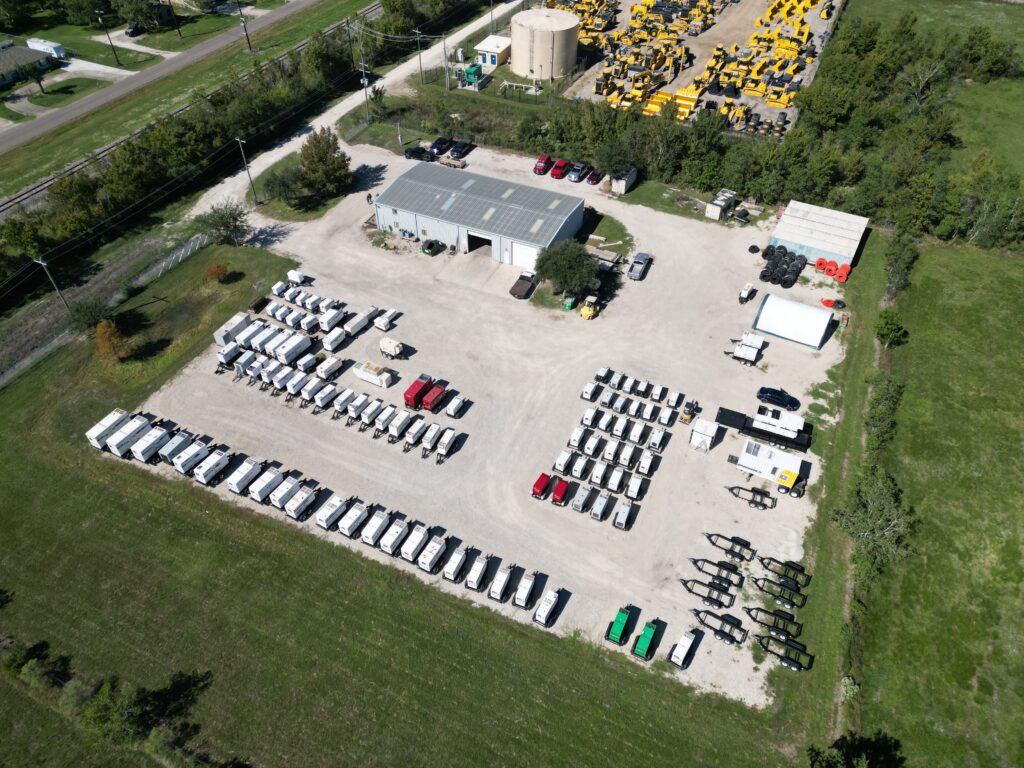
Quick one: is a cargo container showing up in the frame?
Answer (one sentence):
Yes, this view includes a cargo container.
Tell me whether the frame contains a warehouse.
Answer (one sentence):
Yes, a warehouse can be made out from above.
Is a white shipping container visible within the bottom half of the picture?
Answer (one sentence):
No, no white shipping container is visible within the bottom half of the picture.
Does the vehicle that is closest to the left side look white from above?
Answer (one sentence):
Yes, the vehicle that is closest to the left side is indeed white.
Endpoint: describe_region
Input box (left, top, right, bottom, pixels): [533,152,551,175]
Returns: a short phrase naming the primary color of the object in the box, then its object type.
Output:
red car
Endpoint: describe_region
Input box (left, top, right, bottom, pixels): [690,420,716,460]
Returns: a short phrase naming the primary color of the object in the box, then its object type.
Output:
white trailer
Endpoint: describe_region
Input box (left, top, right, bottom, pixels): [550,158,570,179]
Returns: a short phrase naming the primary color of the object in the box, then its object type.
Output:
red vehicle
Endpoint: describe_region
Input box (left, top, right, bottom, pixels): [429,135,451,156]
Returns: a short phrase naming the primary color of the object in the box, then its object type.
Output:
black car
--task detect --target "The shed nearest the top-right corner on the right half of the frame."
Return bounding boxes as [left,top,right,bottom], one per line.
[770,199,869,264]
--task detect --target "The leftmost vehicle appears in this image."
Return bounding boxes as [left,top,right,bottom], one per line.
[28,38,70,60]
